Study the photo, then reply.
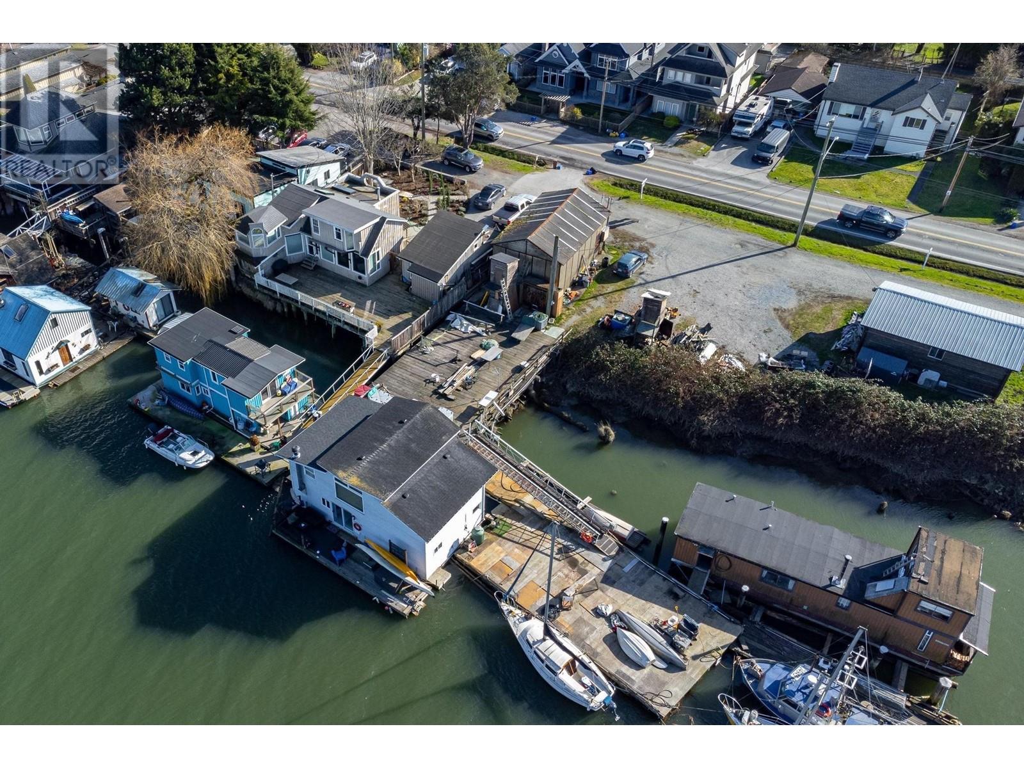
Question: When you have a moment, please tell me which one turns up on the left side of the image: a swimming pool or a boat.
boat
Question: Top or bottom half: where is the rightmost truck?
top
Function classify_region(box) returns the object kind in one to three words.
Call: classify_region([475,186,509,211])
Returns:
car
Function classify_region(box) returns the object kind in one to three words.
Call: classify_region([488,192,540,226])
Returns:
truck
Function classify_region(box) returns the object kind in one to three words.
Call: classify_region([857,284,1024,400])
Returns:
barn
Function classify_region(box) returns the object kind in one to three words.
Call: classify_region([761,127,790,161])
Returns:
van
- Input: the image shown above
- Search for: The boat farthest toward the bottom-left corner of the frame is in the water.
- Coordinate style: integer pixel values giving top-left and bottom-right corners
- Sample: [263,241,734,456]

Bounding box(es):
[138,426,213,467]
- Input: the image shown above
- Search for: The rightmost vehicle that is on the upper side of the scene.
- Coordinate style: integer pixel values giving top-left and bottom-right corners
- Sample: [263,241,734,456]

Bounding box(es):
[841,205,905,237]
